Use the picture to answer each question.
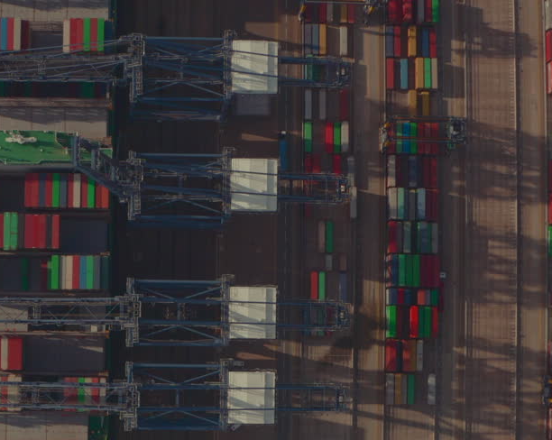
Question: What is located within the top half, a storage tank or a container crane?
container crane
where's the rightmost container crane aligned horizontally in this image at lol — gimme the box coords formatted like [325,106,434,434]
[377,114,470,157]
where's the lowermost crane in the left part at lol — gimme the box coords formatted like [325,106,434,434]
[0,352,350,433]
